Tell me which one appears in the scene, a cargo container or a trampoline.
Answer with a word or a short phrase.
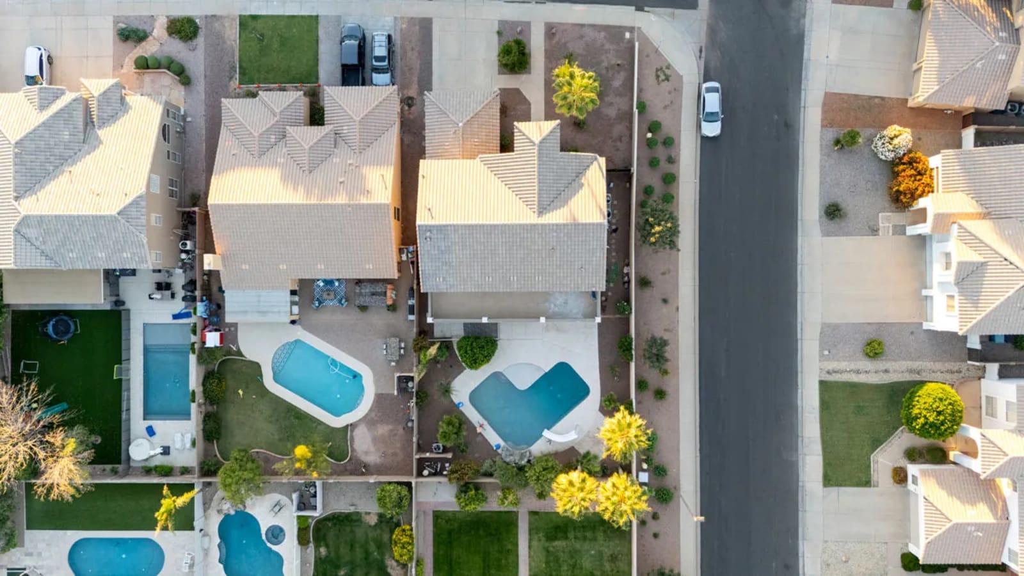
trampoline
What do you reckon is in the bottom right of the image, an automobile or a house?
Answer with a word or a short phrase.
house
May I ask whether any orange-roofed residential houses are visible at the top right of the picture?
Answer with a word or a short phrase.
No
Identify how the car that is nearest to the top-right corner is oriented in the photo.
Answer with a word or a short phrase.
from top to bottom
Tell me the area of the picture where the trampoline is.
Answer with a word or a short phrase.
left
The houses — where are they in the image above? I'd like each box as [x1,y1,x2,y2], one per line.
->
[203,85,401,322]
[909,0,1024,110]
[907,379,1024,576]
[907,142,1024,348]
[417,89,607,322]
[0,78,183,305]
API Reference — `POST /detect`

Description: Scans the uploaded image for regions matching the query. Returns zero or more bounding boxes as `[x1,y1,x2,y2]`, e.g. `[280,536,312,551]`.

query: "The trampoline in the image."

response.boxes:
[36,312,79,342]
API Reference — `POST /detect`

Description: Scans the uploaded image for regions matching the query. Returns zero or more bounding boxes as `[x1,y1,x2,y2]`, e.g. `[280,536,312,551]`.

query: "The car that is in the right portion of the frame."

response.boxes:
[701,80,727,136]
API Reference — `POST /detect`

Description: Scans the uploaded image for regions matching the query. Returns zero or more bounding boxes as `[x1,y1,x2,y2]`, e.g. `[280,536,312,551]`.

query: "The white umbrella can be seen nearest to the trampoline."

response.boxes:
[130,438,175,461]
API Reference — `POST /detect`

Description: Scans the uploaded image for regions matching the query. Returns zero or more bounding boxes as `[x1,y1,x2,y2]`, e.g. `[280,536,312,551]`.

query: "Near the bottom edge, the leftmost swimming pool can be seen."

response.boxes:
[65,535,167,576]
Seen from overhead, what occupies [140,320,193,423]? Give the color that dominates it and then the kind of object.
blue swimming pool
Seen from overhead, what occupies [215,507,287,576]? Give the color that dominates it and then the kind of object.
blue swimming pool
